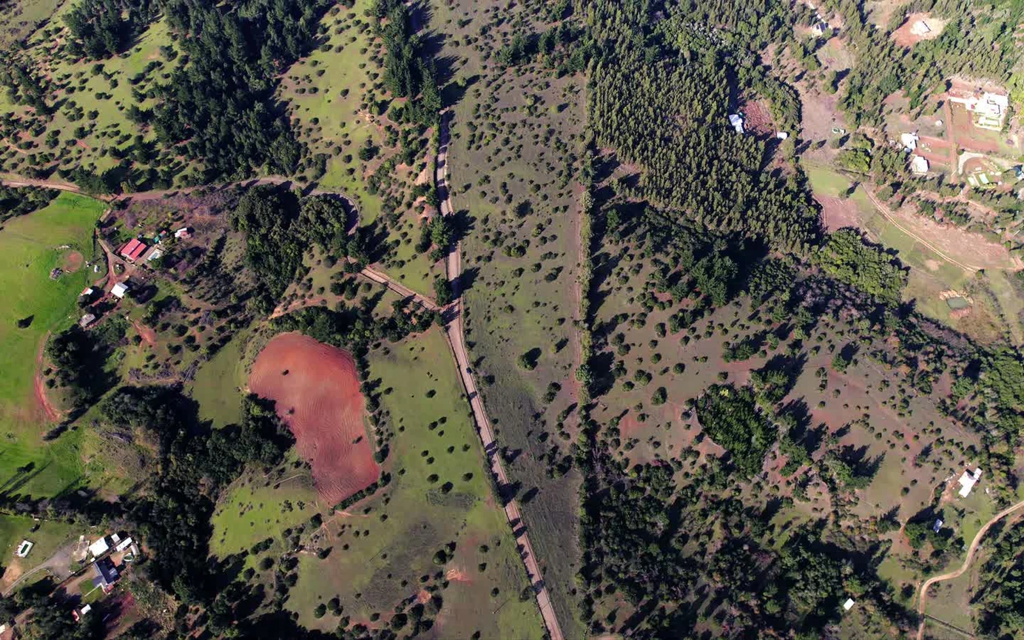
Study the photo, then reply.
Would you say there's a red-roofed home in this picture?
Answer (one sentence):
Yes, the frame does contain a red-roofed home.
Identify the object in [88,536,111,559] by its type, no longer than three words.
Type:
barn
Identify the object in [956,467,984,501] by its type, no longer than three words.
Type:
house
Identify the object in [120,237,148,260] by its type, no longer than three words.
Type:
house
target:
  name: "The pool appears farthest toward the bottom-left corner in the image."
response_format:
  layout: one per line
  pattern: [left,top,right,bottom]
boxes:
[19,540,35,557]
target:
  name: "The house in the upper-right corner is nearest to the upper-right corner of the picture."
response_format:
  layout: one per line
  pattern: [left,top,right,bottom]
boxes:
[964,93,1010,129]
